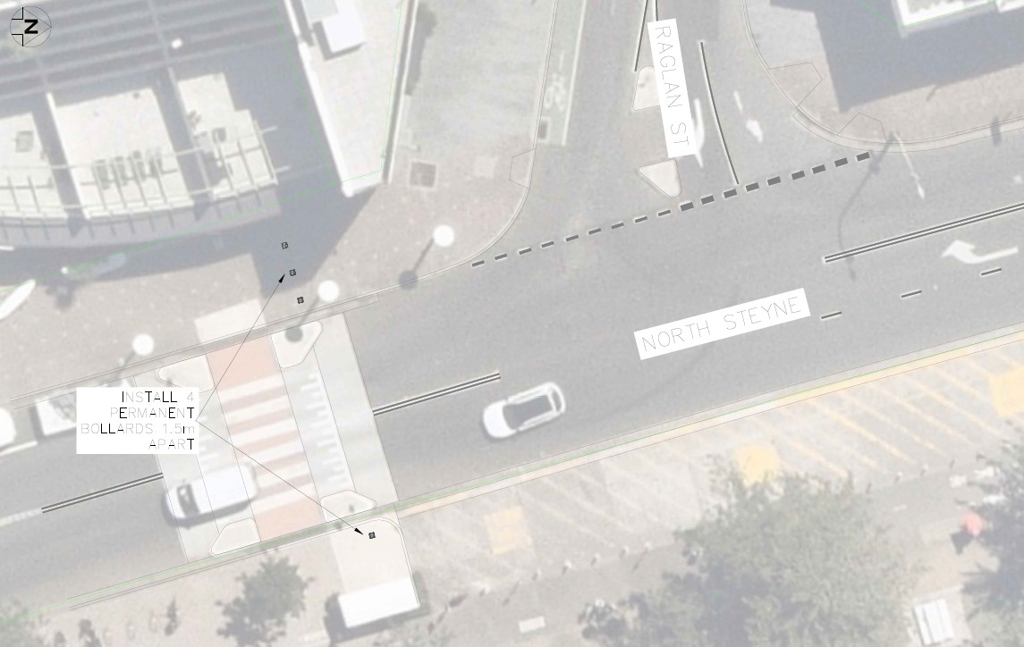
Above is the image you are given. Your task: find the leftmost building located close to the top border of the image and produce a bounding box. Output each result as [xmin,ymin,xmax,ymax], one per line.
[0,0,291,247]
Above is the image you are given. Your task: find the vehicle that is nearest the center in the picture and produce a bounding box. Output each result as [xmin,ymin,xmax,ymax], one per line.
[482,383,567,439]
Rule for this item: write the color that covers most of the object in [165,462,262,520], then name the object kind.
white van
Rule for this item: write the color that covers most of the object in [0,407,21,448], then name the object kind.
white vehicle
